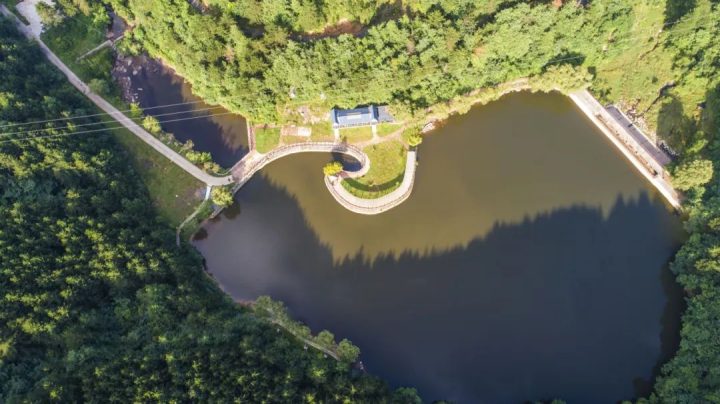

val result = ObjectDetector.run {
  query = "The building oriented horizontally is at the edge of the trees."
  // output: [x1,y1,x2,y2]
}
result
[329,103,394,131]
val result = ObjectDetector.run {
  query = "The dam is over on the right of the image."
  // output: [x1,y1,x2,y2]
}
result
[565,83,693,210]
